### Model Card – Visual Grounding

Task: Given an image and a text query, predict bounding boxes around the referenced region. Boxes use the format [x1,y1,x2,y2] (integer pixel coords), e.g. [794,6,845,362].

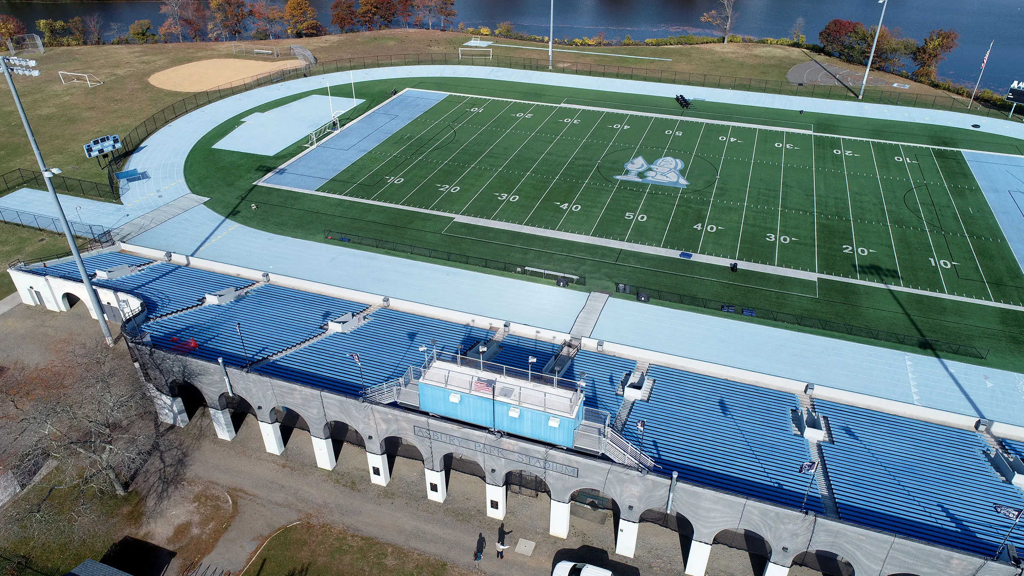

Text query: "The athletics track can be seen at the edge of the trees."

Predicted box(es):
[0,65,1024,425]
